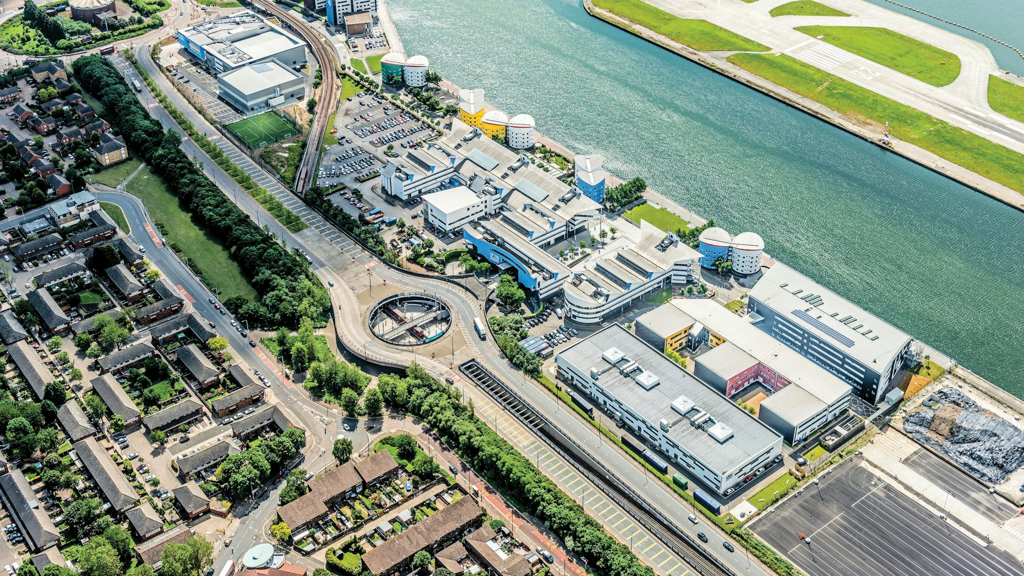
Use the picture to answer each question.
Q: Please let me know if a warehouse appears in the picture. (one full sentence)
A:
Yes, a warehouse is visible in the scene.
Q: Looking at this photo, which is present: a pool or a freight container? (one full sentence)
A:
Looking from above, you can make out a freight container.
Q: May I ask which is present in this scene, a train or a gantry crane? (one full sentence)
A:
The one in the frame is a train.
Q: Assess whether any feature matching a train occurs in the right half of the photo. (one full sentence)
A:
No, the scene shows no train in the right half of the photo.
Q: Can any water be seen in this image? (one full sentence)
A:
Yes, water shows up in the scene.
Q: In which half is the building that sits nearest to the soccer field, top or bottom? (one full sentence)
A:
It is in the top half that the building that sits nearest to the soccer field appears.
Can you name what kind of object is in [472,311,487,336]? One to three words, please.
vehicle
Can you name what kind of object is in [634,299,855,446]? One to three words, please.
building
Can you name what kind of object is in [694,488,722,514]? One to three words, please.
shipping container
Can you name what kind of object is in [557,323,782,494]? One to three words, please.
warehouse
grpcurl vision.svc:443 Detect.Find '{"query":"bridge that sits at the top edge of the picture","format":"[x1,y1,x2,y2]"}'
[248,0,336,190]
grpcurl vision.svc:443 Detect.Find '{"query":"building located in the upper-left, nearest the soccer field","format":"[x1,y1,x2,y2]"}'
[216,56,305,113]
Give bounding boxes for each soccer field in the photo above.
[228,110,299,147]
